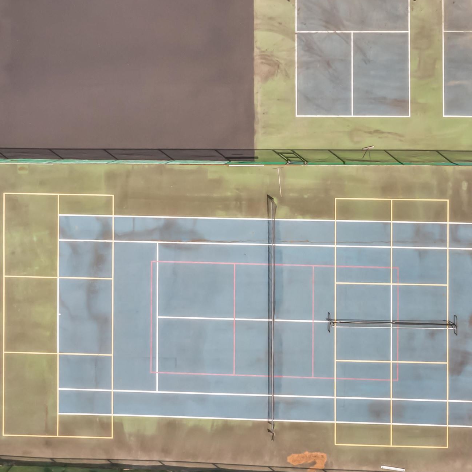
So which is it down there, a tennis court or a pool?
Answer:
tennis court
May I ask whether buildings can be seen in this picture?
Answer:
No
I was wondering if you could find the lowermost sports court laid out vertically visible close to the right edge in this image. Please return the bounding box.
[334,198,449,448]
